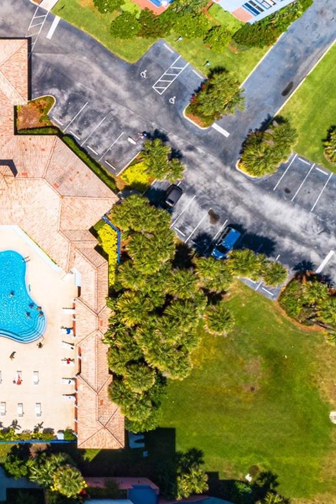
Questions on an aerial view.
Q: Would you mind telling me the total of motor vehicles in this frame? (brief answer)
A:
2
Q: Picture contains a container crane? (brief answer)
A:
No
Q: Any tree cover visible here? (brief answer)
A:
Yes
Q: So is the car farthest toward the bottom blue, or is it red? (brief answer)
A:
blue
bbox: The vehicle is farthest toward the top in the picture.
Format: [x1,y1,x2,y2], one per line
[161,179,191,211]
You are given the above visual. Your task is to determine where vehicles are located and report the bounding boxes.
[212,227,245,261]
[161,179,191,211]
